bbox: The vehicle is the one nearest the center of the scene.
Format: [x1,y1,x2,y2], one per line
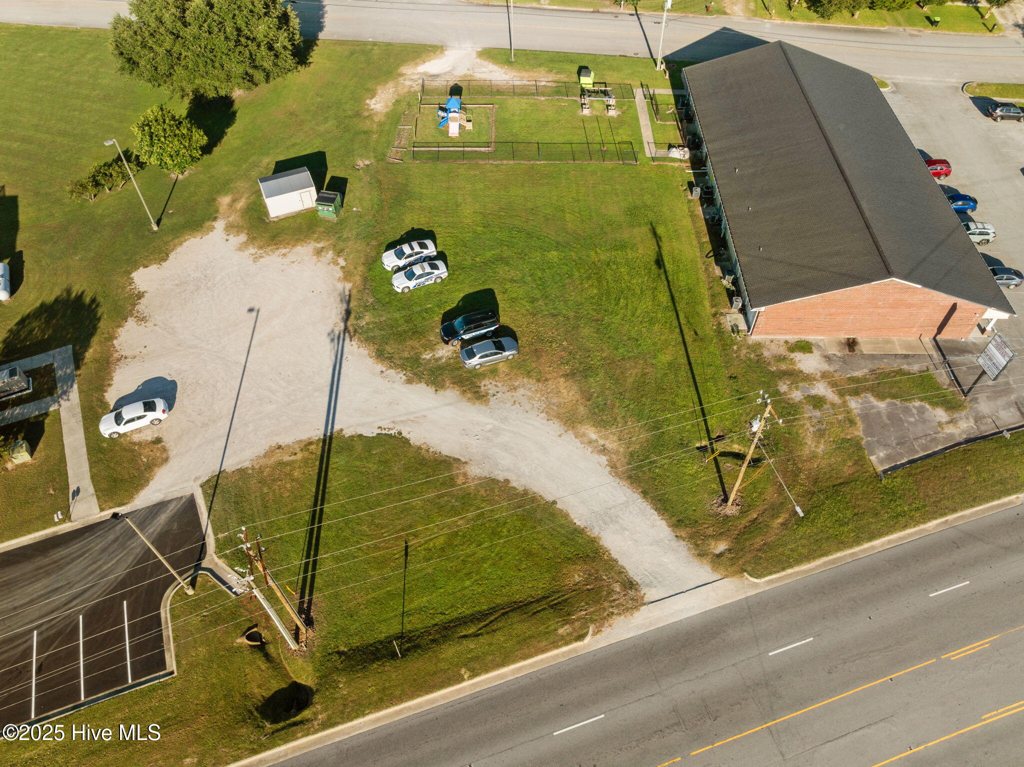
[459,338,519,369]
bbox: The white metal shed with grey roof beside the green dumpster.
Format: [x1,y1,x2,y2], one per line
[258,171,317,220]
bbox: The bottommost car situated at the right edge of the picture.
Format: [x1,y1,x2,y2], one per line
[986,268,1024,290]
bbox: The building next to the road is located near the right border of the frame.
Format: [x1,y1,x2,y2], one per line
[683,41,1015,342]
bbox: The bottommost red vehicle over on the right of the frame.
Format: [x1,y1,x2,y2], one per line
[920,160,953,182]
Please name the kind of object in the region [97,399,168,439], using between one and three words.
car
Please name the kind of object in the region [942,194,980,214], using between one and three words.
car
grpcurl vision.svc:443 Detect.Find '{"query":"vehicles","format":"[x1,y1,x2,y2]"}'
[97,399,168,439]
[942,194,980,214]
[986,102,1024,123]
[920,160,953,182]
[439,309,499,346]
[381,242,436,271]
[391,262,447,293]
[459,338,519,369]
[986,268,1024,290]
[960,223,995,247]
